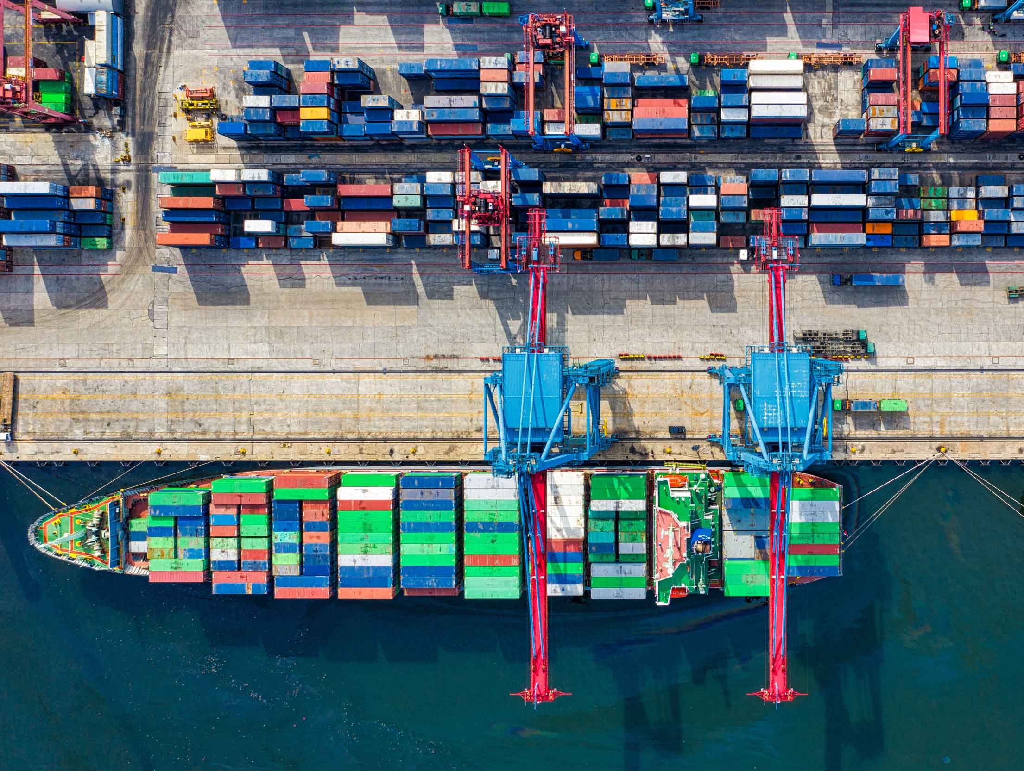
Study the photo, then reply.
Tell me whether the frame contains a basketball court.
No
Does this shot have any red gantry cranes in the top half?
Yes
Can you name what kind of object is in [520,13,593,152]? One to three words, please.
container crane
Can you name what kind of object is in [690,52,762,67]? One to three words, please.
vehicle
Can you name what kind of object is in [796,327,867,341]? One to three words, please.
vehicle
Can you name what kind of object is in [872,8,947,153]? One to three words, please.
container crane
